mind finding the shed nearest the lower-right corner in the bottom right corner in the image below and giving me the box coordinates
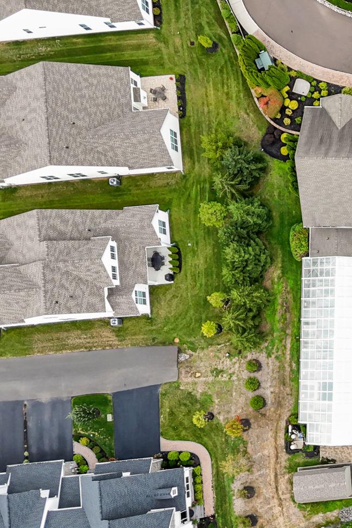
[294,462,352,503]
